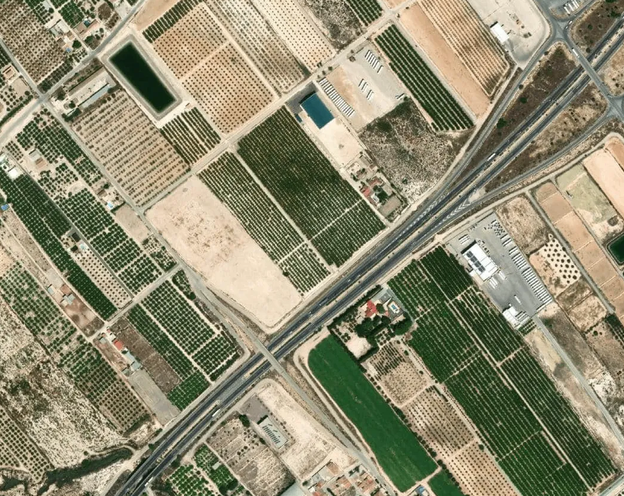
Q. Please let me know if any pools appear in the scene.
Yes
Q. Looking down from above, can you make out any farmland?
Yes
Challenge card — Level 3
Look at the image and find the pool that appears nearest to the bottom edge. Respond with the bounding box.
[383,297,405,319]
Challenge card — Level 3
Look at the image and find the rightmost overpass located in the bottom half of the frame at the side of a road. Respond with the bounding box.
[209,290,321,414]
